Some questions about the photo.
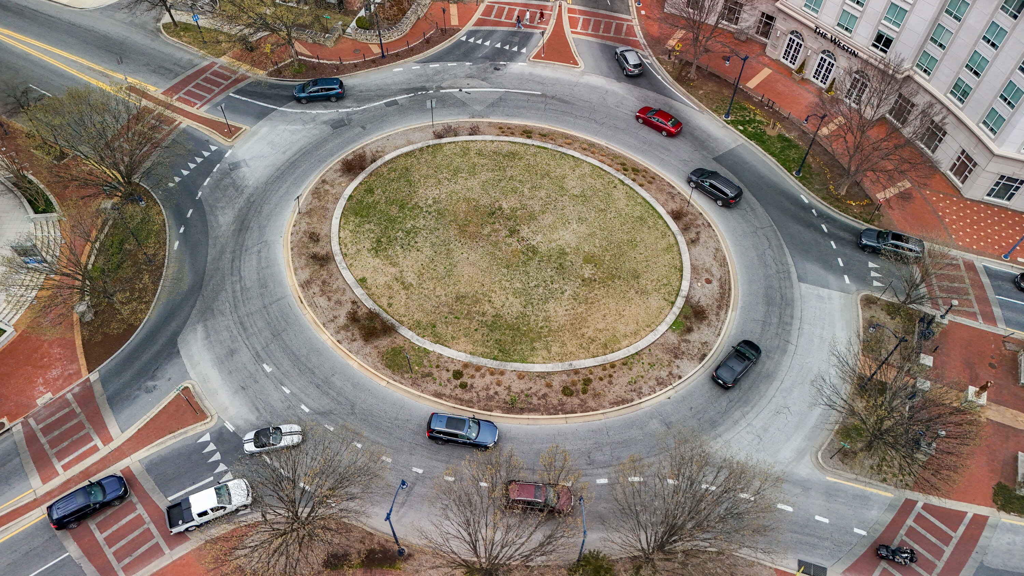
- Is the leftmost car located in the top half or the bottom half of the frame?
bottom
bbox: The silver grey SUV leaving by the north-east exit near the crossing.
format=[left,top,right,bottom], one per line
[614,47,645,79]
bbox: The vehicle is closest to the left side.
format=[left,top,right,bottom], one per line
[40,474,129,536]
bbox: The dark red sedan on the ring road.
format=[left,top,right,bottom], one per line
[634,106,685,139]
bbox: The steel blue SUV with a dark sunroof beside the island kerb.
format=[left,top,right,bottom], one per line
[424,411,499,452]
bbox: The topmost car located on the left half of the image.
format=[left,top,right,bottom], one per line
[294,78,344,104]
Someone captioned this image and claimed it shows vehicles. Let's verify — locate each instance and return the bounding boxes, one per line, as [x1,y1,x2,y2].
[686,168,745,210]
[244,419,304,455]
[634,106,685,139]
[501,477,573,514]
[40,474,129,536]
[710,338,765,392]
[424,411,499,452]
[163,478,256,537]
[614,47,645,79]
[863,229,931,265]
[294,78,344,104]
